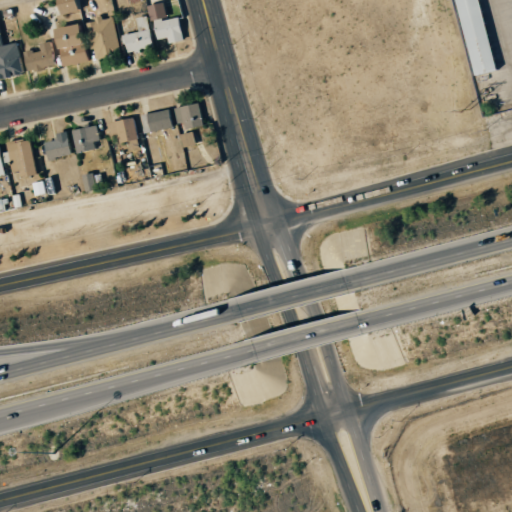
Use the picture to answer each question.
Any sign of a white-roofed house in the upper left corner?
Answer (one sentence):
Yes, a white-roofed house can be seen in the upper left corner.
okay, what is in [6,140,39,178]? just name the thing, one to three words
house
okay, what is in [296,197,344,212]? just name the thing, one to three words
vehicle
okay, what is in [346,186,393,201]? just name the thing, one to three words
vehicle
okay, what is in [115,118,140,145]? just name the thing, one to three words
house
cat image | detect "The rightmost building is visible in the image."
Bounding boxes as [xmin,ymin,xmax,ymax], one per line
[454,0,498,76]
